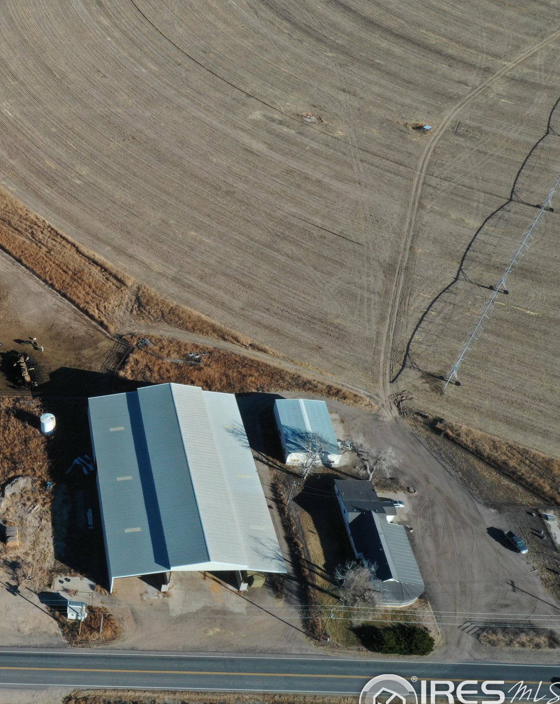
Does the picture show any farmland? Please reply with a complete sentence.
Yes, the picture does contain farmland.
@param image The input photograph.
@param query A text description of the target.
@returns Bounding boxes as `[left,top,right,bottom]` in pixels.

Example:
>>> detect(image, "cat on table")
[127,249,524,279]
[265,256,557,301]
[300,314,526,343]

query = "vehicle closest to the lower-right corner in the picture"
[505,531,532,554]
